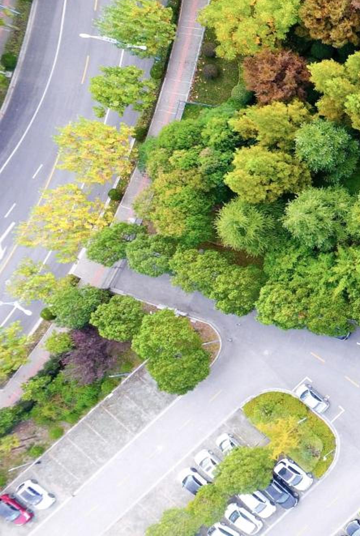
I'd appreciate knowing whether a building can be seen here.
No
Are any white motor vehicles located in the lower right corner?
Yes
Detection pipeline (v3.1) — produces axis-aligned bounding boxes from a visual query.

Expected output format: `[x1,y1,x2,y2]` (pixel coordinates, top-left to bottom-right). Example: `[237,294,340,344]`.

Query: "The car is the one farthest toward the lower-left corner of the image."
[0,494,34,525]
